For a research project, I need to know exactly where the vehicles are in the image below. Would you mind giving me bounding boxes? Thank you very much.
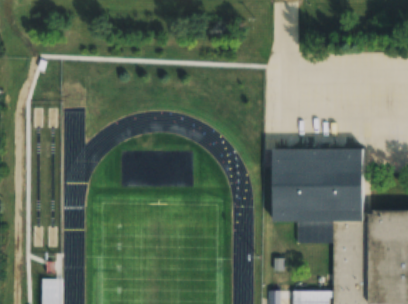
[298,120,304,136]
[331,122,338,136]
[314,118,320,134]
[324,122,329,137]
